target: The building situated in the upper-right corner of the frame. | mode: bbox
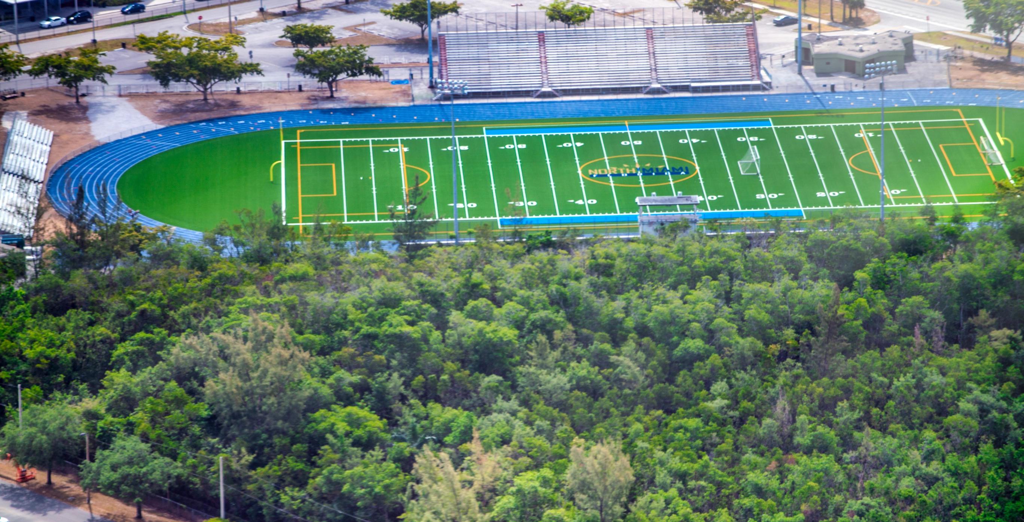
[796,30,912,76]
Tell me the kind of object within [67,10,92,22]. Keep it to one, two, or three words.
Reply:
vehicle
